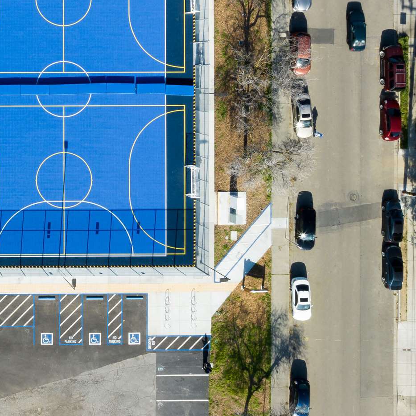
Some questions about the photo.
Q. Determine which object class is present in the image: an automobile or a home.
automobile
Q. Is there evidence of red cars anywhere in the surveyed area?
Yes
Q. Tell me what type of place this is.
sports ground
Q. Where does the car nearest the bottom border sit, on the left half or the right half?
right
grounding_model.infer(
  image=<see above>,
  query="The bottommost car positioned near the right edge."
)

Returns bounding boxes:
[381,245,406,290]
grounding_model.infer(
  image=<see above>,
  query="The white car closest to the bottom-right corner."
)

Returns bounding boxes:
[290,277,313,320]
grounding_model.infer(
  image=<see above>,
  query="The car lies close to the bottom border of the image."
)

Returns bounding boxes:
[289,378,311,416]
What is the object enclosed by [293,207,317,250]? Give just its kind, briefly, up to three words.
car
